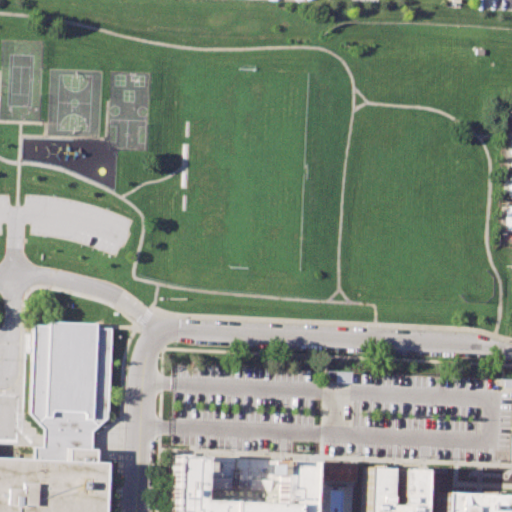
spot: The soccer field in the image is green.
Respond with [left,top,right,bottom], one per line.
[186,68,310,272]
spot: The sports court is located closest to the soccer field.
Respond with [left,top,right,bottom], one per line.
[109,72,150,150]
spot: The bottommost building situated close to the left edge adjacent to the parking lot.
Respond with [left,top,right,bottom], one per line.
[0,448,112,512]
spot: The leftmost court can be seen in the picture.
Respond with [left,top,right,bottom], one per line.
[0,40,44,120]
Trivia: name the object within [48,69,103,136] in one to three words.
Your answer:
basketball court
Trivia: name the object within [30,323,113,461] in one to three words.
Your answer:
building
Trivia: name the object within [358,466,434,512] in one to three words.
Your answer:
building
